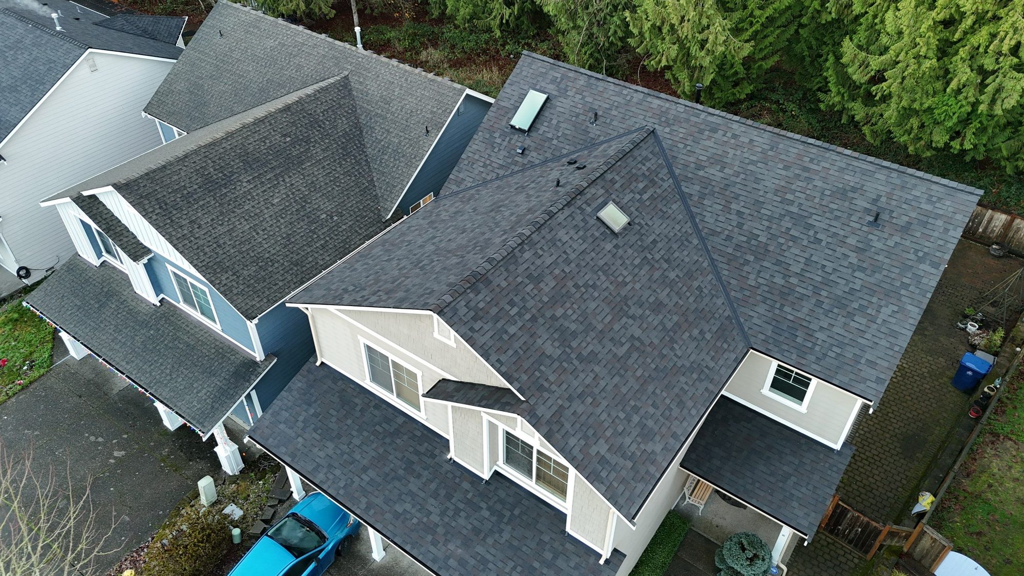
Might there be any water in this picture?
No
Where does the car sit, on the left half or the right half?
left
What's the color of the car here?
blue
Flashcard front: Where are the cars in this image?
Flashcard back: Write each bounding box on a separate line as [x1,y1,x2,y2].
[219,490,361,576]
